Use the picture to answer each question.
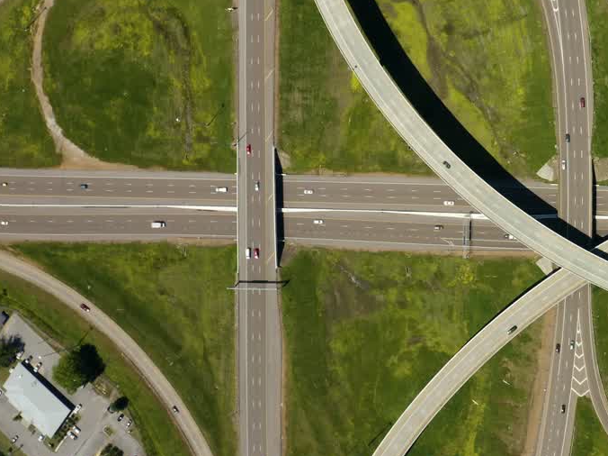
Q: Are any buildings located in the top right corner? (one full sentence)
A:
No, looking in the top right corner, there is no building.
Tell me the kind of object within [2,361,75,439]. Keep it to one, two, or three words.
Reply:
building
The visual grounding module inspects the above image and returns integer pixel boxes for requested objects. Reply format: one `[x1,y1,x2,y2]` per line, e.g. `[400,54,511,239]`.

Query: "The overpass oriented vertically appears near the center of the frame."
[235,142,278,272]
